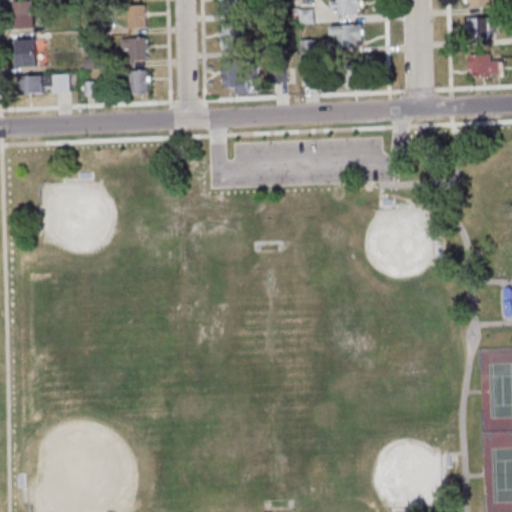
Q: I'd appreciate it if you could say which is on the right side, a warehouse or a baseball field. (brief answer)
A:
baseball field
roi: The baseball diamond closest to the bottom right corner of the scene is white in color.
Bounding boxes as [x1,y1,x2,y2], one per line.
[374,438,442,508]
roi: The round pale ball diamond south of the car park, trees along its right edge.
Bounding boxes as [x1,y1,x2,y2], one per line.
[365,204,436,278]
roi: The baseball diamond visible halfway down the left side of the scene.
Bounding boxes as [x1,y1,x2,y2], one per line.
[43,181,118,254]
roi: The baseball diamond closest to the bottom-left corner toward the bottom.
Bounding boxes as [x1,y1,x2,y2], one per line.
[36,420,138,512]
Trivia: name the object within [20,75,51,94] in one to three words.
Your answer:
house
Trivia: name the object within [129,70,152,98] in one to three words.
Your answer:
house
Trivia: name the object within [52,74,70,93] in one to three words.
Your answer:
building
